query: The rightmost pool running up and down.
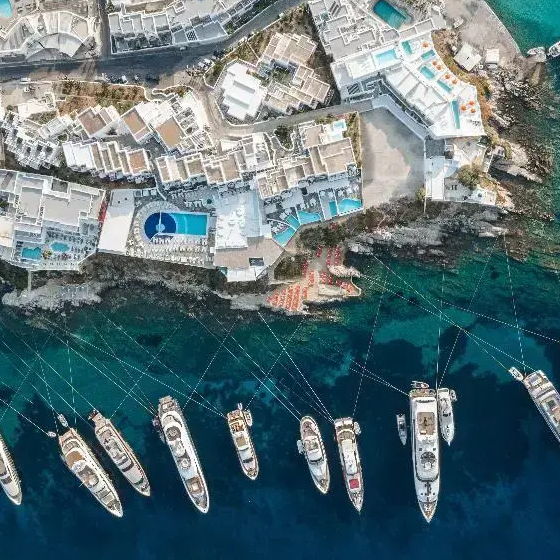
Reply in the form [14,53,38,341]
[450,99,462,130]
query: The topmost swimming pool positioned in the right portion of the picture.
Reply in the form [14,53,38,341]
[371,0,409,32]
